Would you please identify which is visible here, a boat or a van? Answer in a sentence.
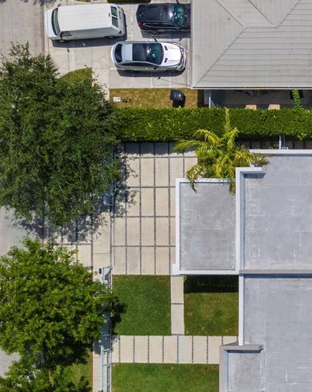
Looking from above, you can make out a van.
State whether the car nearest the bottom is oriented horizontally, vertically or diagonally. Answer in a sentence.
In this picture, the car nearest the bottom is oriented horizontally.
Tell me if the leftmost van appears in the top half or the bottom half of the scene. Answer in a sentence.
The top half of the photo is where the leftmost van is.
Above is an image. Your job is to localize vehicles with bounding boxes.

[48,2,130,43]
[114,39,188,76]
[141,1,190,38]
